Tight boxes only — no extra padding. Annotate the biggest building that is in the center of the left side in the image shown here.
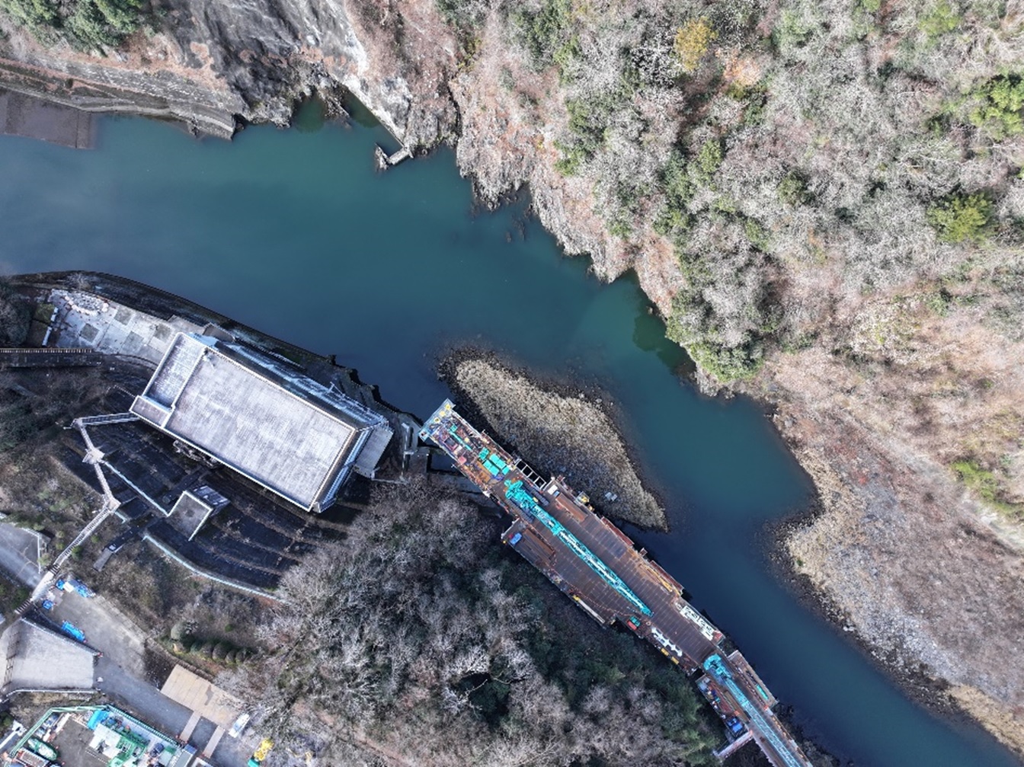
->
[130,325,390,511]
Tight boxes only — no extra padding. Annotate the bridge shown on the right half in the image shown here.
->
[431,411,817,767]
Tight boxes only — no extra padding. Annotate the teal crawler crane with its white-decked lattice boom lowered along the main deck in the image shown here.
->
[500,472,653,616]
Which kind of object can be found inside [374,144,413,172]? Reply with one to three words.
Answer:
pier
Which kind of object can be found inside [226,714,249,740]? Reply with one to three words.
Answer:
vehicle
